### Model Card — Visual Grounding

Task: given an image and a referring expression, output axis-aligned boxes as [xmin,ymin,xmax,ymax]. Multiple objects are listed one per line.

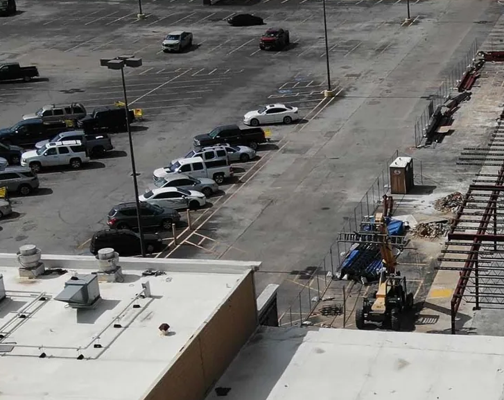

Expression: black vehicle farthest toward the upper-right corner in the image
[253,27,289,49]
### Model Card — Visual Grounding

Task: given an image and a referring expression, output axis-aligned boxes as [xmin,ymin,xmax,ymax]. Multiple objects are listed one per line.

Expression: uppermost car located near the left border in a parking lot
[0,0,21,16]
